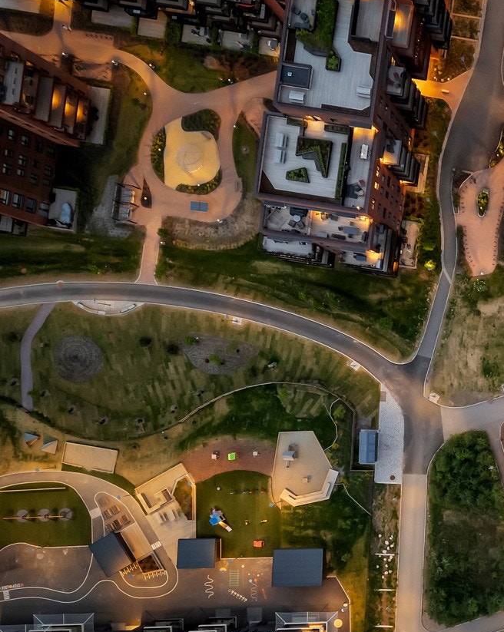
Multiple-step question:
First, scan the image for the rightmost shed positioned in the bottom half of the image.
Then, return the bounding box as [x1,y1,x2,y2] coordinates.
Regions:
[359,429,384,463]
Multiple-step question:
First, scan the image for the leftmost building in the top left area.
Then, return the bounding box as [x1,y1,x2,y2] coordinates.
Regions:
[0,34,112,237]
